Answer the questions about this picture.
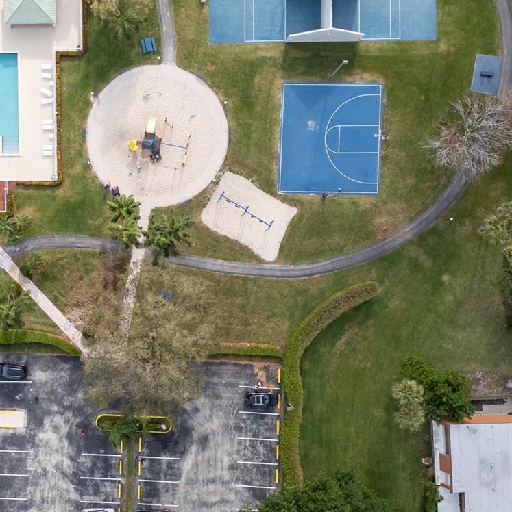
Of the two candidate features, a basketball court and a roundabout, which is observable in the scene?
basketball court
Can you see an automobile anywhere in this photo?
Yes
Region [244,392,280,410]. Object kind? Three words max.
car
